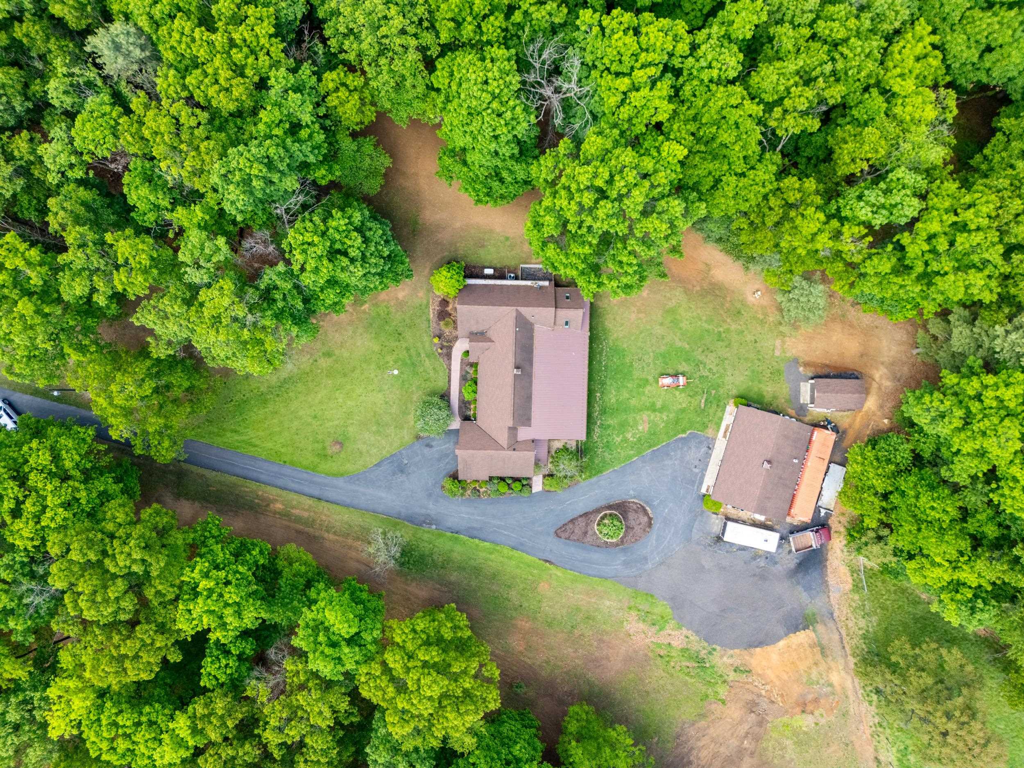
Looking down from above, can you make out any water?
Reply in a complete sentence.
No, water can't be seen anywhere here.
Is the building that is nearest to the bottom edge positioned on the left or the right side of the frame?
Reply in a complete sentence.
It is on the right.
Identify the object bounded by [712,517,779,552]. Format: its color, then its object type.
white trailer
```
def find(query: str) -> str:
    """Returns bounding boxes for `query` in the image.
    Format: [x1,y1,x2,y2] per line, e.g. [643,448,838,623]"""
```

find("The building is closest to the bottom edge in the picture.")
[706,405,836,523]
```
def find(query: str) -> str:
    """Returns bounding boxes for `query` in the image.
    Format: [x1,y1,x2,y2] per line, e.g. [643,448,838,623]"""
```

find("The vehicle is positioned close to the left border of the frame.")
[0,400,20,429]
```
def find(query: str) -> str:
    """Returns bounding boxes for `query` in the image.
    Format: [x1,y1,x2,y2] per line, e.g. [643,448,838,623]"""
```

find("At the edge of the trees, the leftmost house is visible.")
[455,279,590,480]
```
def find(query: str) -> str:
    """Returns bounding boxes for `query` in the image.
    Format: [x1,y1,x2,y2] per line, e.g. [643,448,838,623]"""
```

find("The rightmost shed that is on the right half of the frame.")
[800,379,865,410]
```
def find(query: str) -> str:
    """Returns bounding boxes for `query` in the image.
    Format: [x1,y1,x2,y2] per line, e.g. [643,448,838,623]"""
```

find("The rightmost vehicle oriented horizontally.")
[780,524,834,553]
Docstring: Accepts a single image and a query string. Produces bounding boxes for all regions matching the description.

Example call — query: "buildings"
[706,405,836,523]
[800,379,865,410]
[455,279,590,480]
